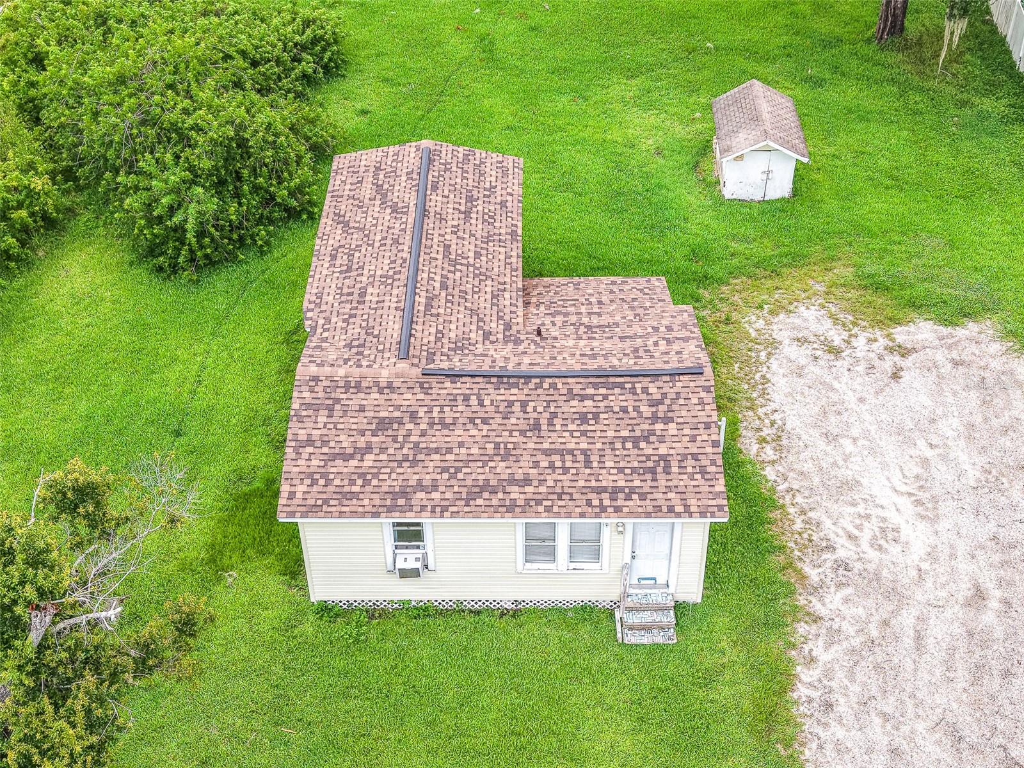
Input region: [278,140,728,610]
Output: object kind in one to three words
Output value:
house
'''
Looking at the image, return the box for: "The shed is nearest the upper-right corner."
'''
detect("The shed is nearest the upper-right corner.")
[712,81,810,199]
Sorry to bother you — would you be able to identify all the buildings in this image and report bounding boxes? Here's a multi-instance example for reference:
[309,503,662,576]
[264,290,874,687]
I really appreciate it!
[278,140,728,610]
[712,81,810,199]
